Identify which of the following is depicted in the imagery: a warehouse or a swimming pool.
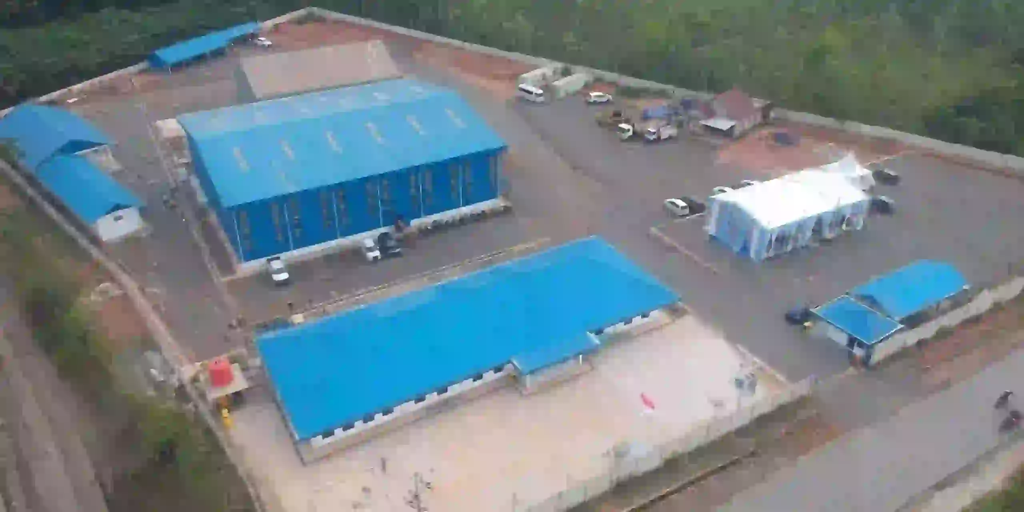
warehouse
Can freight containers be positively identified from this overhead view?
Yes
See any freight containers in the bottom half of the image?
No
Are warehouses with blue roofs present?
Yes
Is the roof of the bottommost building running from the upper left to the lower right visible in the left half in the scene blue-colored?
Yes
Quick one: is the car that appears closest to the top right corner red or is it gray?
gray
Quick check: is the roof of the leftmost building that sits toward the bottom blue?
Yes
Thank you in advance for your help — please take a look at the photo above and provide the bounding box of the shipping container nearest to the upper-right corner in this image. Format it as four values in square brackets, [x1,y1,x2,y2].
[548,69,585,97]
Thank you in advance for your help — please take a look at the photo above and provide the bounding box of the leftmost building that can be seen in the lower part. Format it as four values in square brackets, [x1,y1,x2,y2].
[252,235,680,467]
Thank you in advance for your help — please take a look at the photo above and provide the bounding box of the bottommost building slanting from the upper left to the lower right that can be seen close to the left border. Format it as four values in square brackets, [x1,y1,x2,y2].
[36,157,144,244]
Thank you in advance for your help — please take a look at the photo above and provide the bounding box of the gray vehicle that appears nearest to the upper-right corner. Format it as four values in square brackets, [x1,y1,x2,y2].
[869,164,906,187]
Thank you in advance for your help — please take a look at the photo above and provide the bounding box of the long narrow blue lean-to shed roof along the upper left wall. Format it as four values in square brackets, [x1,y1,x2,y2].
[137,19,262,79]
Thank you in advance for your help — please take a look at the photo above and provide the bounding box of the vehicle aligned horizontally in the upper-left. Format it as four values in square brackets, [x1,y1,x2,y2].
[250,35,274,47]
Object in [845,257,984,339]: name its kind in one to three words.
shed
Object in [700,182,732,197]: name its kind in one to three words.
car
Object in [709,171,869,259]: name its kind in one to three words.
tent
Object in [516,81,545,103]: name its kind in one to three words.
vehicle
